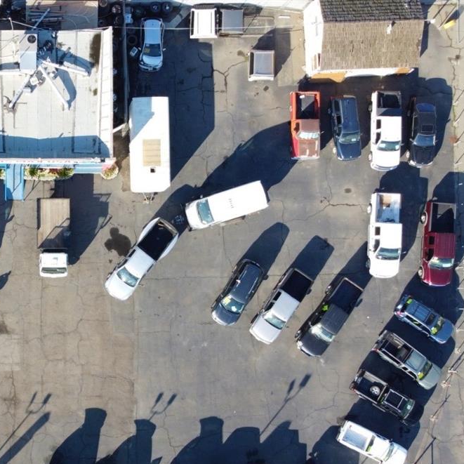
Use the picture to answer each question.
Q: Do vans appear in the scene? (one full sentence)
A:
Yes, you can see a van in this photo.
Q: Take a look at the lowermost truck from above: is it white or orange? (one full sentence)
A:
The lowermost truck is white.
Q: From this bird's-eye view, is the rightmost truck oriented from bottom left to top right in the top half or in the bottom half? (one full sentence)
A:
The bottom half of the photo is where the rightmost truck oriented from bottom left to top right is.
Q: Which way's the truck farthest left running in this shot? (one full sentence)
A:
Seen from above, the truck farthest left lies up and down.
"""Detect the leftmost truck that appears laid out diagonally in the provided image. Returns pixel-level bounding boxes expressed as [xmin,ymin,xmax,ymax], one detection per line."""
[107,217,180,301]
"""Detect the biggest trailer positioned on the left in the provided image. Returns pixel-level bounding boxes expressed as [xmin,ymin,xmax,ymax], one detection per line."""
[123,98,170,209]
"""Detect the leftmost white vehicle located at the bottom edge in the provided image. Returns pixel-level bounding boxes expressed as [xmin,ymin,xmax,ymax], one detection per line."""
[334,420,403,464]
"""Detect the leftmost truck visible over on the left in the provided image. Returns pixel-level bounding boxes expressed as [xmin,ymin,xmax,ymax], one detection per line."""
[36,199,72,279]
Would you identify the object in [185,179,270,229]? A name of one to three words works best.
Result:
van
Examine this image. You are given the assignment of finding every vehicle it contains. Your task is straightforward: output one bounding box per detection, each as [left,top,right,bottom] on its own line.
[185,179,270,229]
[212,258,262,324]
[393,297,449,342]
[299,276,367,357]
[288,91,324,162]
[404,99,440,169]
[367,90,405,173]
[334,420,403,464]
[328,96,363,160]
[419,201,459,286]
[369,328,438,389]
[138,20,166,73]
[365,191,404,279]
[348,368,421,427]
[250,265,315,345]
[107,217,180,301]
[36,199,72,279]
